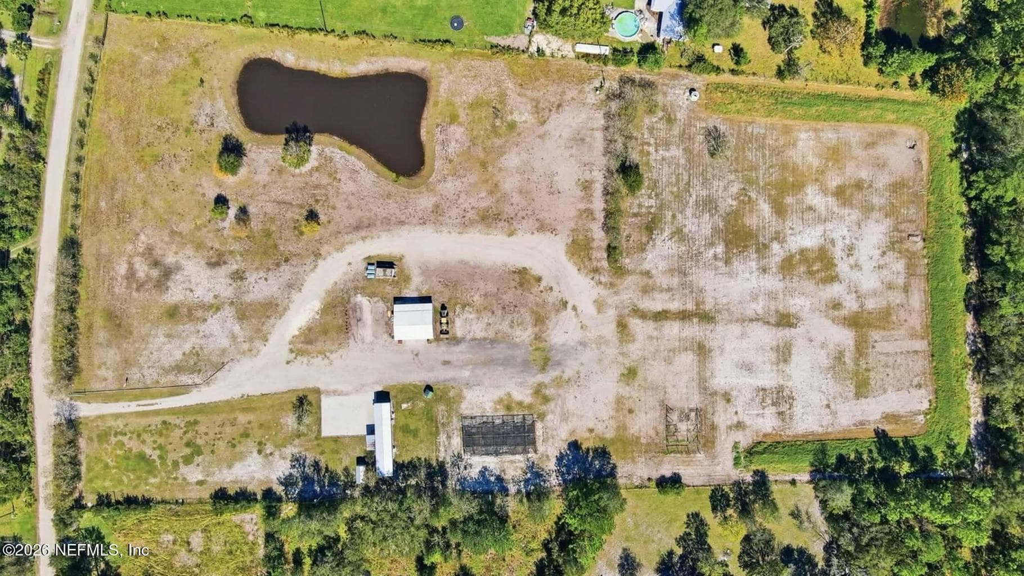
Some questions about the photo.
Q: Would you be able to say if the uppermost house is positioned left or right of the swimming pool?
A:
right of it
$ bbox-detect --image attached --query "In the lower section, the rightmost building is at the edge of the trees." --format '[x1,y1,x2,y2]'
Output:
[462,415,539,455]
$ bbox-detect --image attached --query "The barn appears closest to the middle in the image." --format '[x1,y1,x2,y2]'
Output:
[392,304,434,340]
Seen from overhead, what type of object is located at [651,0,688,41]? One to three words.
house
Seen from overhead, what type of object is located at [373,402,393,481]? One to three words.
house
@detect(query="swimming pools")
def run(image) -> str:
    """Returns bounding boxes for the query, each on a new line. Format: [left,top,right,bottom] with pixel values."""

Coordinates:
[611,10,641,38]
